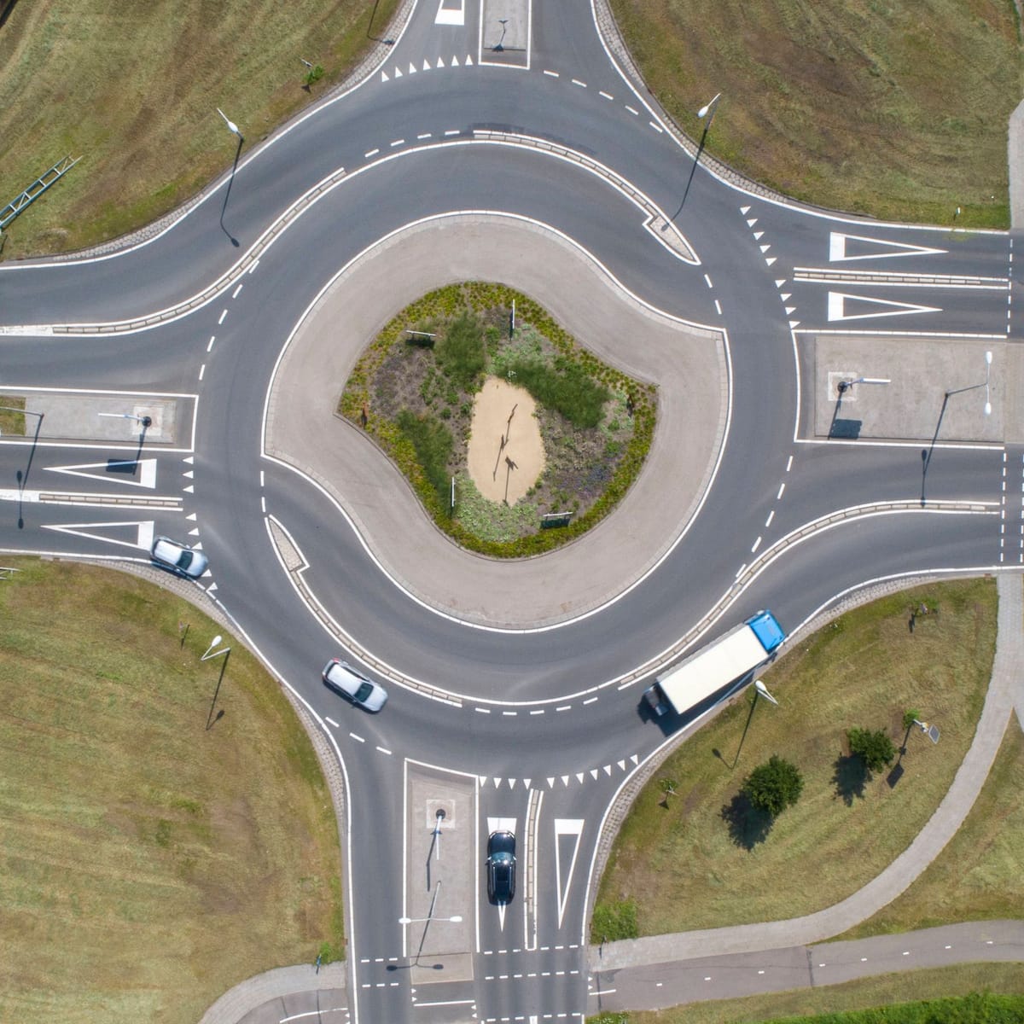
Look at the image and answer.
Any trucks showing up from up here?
Yes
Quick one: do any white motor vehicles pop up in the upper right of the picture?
No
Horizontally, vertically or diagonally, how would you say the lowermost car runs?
vertically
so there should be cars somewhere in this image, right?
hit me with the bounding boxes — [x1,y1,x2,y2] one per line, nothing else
[485,831,519,904]
[322,657,387,709]
[147,534,207,575]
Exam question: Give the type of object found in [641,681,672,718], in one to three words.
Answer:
work vehicle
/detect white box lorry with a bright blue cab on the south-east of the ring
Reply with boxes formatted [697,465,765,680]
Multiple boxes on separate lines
[655,609,785,714]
